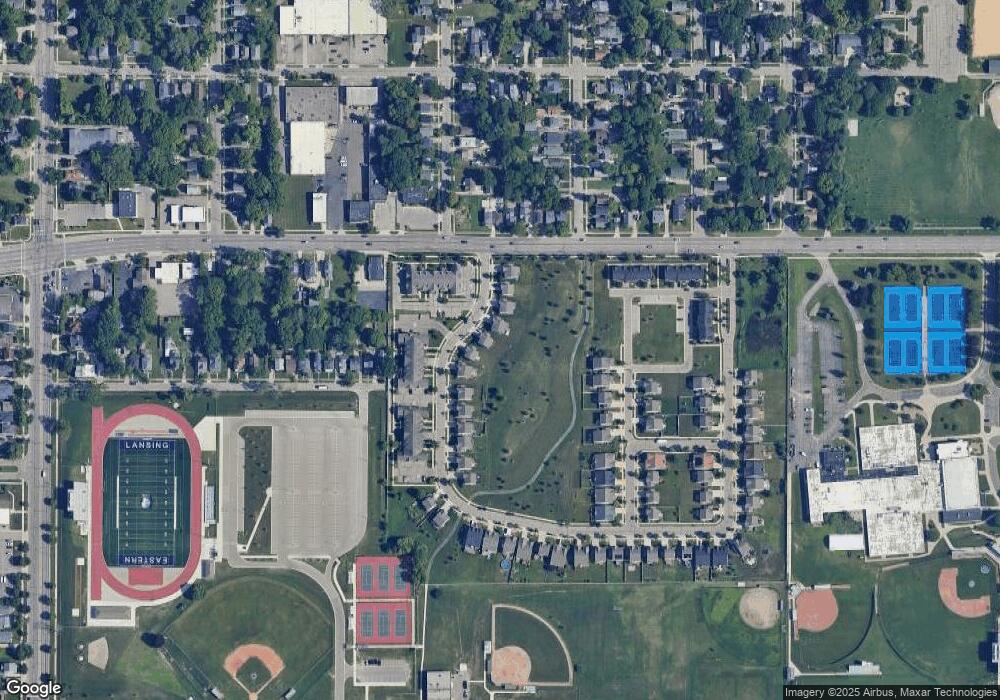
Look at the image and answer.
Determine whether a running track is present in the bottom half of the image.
Yes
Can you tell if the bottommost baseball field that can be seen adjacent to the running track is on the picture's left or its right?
left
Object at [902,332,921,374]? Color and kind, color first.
blue tennis court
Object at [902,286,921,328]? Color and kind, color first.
blue tennis court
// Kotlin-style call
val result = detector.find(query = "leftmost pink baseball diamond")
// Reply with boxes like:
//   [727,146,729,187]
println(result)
[794,588,839,633]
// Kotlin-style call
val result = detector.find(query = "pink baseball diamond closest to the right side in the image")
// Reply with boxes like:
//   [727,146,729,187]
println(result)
[938,564,991,619]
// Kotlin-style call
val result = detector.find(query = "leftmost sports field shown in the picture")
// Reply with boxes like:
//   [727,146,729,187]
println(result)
[104,437,190,568]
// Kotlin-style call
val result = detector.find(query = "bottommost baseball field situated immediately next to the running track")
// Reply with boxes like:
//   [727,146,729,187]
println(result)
[166,576,333,700]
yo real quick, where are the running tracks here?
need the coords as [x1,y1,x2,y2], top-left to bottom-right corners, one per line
[92,403,202,600]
